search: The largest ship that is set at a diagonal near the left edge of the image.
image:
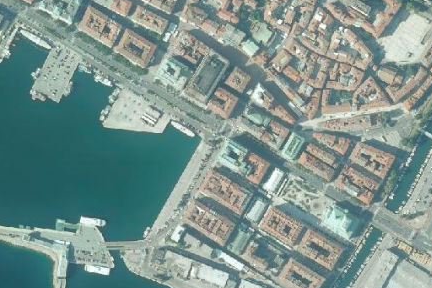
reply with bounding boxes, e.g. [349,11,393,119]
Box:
[19,27,50,47]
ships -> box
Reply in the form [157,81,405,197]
[172,122,193,136]
[80,215,106,225]
[19,27,50,47]
[84,264,110,275]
